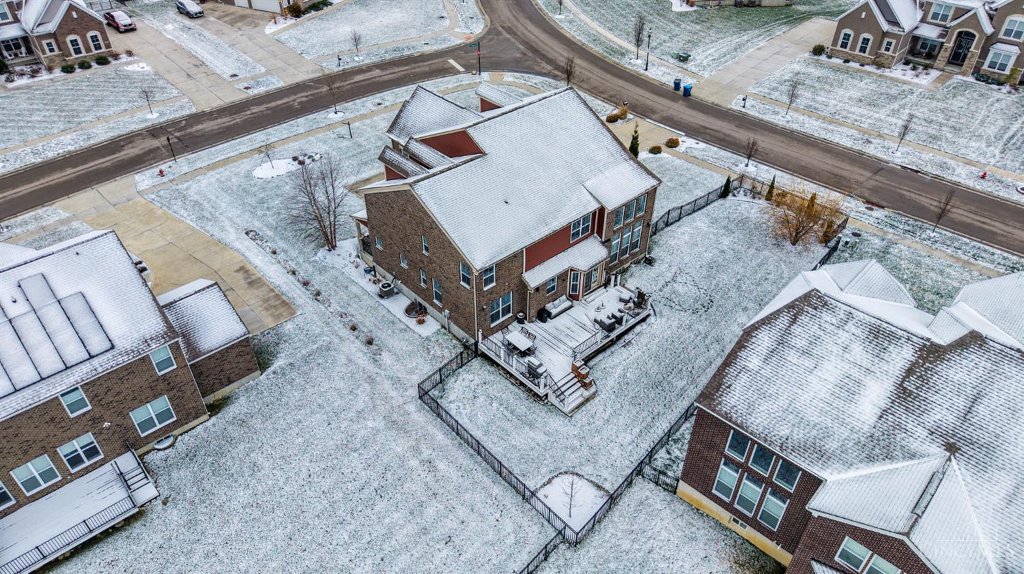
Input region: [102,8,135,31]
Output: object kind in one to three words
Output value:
truck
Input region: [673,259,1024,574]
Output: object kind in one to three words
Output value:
house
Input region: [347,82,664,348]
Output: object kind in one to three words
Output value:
house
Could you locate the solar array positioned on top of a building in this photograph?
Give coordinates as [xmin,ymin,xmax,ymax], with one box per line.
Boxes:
[0,271,113,397]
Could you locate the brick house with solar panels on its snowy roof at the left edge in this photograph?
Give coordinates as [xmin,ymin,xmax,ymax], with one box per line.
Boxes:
[0,227,262,512]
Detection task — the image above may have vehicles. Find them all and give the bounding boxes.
[102,8,135,31]
[177,0,202,16]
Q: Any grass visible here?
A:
Yes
